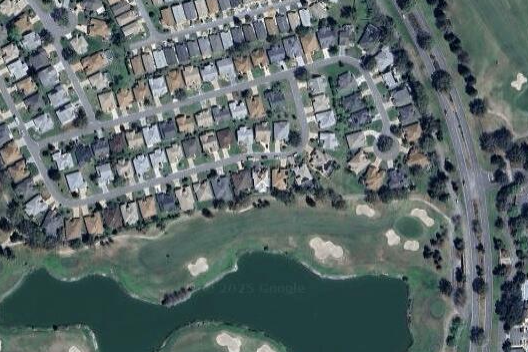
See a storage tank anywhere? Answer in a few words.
No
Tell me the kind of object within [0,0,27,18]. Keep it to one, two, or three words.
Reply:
house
